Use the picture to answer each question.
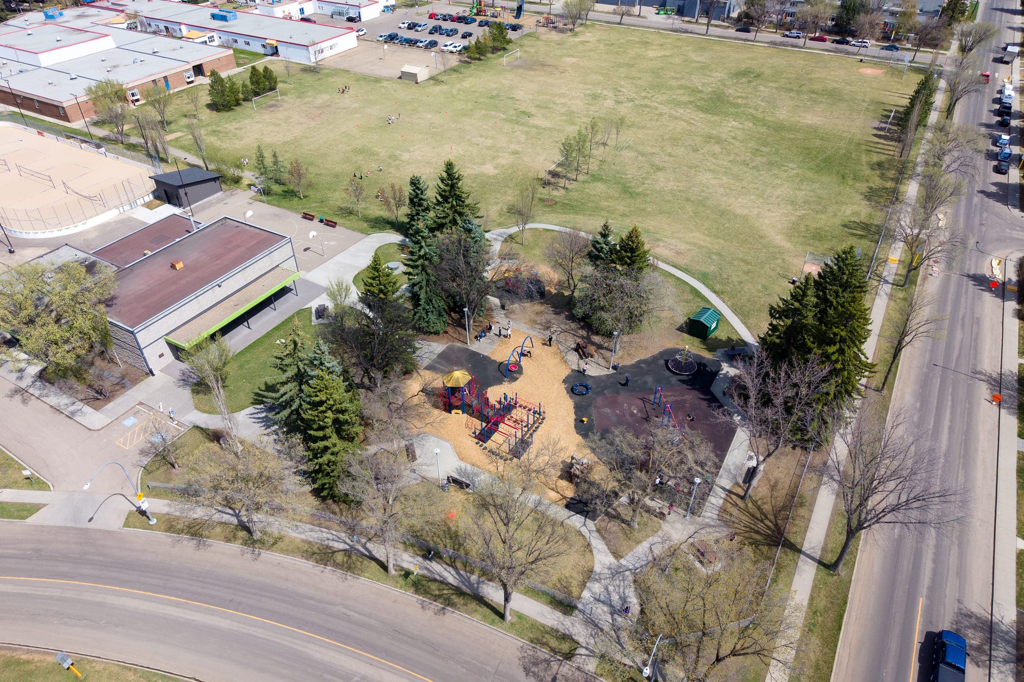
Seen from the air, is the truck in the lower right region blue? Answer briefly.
Yes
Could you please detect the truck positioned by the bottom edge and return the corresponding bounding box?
[930,631,974,682]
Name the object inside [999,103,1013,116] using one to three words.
vehicle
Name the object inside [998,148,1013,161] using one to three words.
vehicle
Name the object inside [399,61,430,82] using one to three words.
shed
